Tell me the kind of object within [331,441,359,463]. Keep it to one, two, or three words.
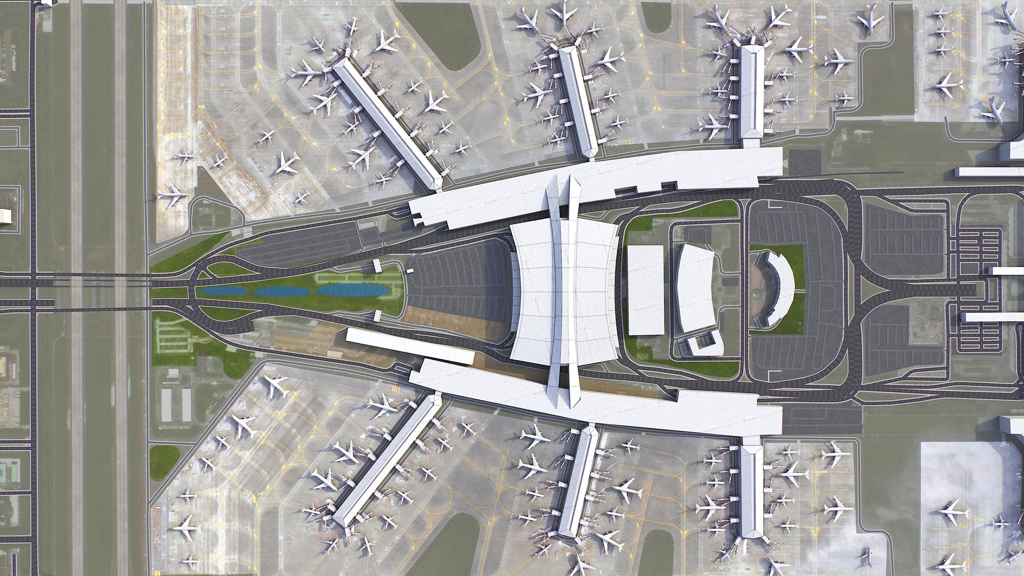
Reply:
airplane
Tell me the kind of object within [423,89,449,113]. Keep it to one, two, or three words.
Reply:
airplane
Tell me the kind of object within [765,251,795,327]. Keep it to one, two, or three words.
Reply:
building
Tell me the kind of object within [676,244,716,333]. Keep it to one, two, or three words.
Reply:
building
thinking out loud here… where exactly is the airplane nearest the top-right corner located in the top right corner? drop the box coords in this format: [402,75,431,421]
[996,0,1020,30]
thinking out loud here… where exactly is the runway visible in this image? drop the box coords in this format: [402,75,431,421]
[71,0,157,576]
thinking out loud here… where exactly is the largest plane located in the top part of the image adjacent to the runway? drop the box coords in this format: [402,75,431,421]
[159,181,190,208]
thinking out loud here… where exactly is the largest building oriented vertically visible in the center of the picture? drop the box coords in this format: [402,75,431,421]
[510,175,619,409]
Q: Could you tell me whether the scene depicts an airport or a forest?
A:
airport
